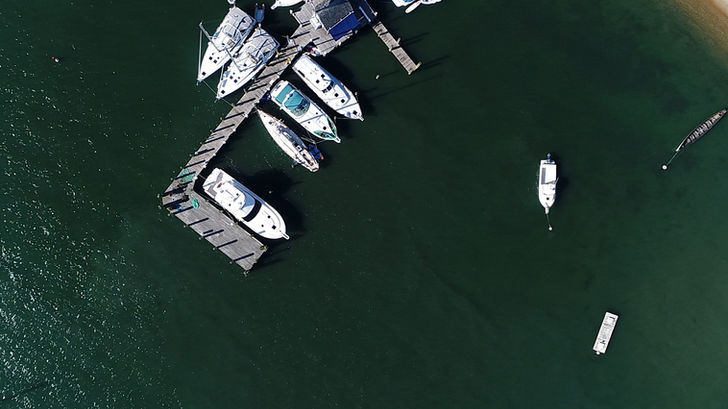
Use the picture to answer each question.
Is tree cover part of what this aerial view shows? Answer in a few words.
No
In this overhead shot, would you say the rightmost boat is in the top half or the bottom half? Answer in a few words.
top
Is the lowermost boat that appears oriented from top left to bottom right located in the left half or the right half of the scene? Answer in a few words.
left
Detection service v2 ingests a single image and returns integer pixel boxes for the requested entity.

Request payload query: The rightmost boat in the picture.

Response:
[666,108,728,164]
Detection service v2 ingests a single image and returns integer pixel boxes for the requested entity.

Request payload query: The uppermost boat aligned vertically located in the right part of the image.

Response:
[539,154,560,228]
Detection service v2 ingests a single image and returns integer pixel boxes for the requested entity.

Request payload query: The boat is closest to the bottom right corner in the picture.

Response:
[594,312,619,354]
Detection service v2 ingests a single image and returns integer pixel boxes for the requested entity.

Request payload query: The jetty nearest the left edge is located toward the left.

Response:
[158,0,380,275]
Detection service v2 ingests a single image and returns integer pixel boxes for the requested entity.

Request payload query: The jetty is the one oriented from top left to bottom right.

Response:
[373,21,420,78]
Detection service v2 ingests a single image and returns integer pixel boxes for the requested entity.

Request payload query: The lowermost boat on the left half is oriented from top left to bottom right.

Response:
[198,166,289,239]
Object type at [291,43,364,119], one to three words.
boat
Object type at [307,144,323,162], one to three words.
boat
